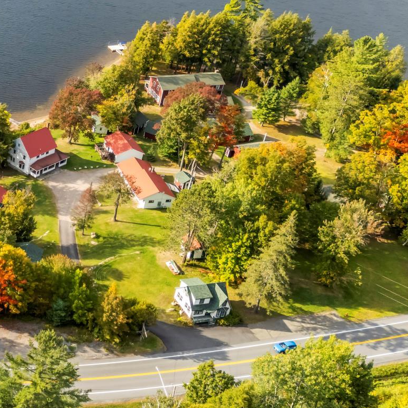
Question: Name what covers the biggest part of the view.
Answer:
trees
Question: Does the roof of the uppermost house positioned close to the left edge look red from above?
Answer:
Yes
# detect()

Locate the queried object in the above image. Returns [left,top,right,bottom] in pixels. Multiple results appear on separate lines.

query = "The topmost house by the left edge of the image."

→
[9,122,68,179]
